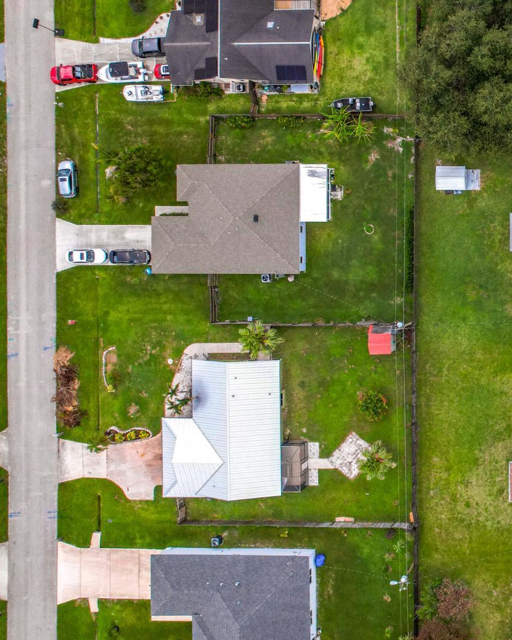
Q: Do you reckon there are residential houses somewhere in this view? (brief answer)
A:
Yes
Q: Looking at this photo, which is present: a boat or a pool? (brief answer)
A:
boat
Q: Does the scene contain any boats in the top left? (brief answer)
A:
Yes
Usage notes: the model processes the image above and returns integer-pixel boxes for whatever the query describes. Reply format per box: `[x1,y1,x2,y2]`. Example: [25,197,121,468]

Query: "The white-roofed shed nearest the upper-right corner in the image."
[436,166,481,191]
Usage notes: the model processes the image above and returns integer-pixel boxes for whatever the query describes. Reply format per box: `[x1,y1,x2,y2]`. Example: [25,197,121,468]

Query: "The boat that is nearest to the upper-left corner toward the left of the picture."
[98,60,149,82]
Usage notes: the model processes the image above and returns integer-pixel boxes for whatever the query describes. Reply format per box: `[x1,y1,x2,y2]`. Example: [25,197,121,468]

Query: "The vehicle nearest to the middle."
[109,247,151,267]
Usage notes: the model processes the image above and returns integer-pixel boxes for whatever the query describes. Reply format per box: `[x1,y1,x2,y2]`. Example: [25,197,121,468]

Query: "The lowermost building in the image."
[151,546,320,640]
